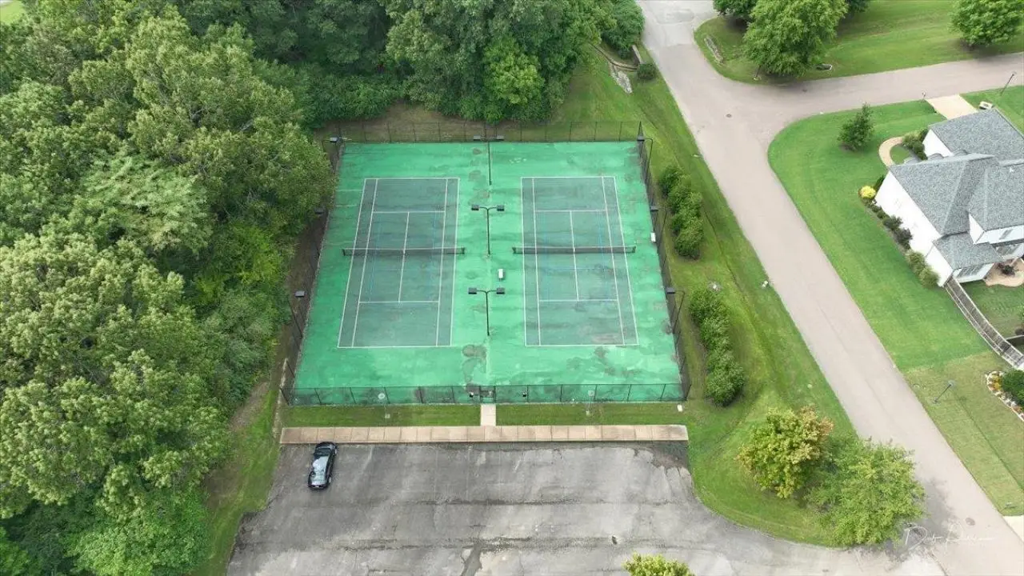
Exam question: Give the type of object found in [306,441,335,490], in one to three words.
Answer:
car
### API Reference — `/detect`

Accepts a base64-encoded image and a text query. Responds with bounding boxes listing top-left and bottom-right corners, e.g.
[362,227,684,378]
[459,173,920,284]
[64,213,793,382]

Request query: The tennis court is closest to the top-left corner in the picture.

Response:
[289,141,491,405]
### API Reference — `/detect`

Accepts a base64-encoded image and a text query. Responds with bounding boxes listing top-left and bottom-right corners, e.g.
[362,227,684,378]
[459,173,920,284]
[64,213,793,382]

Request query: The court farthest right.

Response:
[488,140,685,403]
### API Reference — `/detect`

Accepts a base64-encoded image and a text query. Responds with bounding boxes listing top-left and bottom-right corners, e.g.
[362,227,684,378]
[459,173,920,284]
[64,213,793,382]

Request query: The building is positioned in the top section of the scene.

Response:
[879,108,1024,286]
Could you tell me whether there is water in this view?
No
